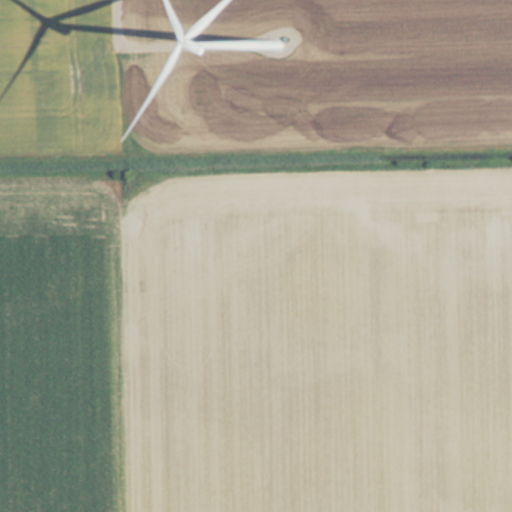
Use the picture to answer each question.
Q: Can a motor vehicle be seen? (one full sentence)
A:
No, the scene contains no motor vehicle.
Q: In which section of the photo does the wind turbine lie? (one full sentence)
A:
Look in the top portion of the view to spot the wind turbine.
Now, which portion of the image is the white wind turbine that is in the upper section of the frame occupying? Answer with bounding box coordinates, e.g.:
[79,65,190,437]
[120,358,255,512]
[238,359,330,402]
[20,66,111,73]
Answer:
[124,0,289,141]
